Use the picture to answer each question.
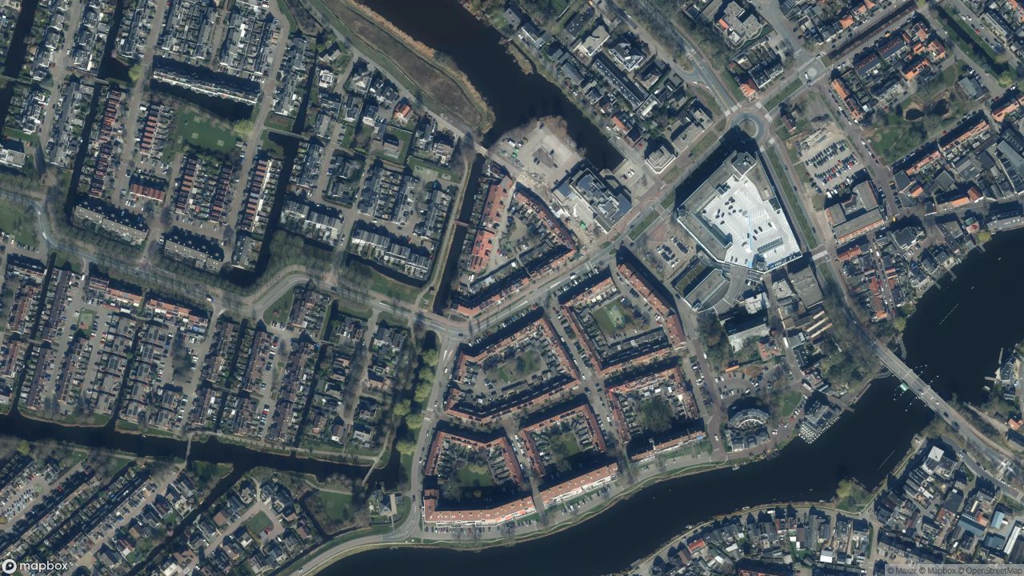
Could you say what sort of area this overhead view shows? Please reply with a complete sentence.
What you see here is a residential area.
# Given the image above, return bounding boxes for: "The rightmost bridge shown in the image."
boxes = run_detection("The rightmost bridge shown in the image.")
[869,342,969,437]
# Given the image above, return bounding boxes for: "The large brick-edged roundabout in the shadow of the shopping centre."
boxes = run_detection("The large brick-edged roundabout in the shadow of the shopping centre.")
[726,107,769,149]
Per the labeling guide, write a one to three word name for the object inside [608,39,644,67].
house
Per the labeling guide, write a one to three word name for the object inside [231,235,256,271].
building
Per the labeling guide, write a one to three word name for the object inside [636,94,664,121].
house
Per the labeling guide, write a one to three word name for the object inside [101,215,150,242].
building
